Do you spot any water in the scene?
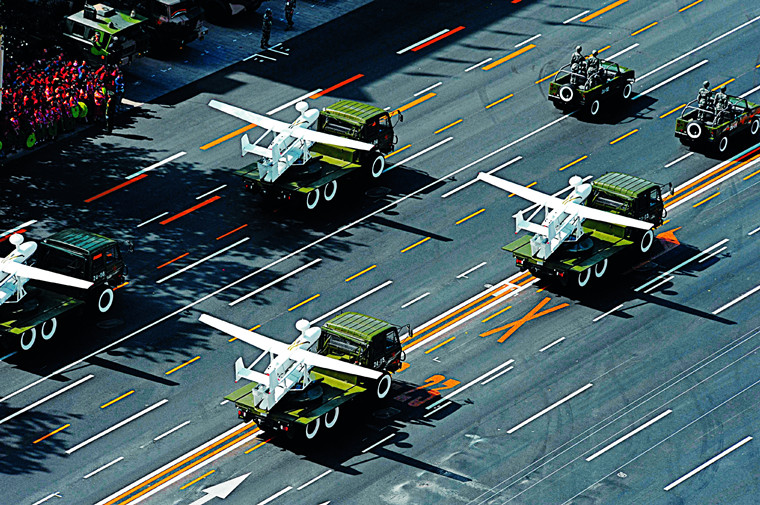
No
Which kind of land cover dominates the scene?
paved ground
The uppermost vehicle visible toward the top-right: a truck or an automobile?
automobile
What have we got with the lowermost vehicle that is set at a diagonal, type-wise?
truck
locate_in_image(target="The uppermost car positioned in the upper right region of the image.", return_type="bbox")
[550,55,636,115]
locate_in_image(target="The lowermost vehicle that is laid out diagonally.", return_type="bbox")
[226,307,413,439]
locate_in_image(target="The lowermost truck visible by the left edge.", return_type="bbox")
[0,224,132,349]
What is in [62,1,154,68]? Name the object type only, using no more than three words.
vehicle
